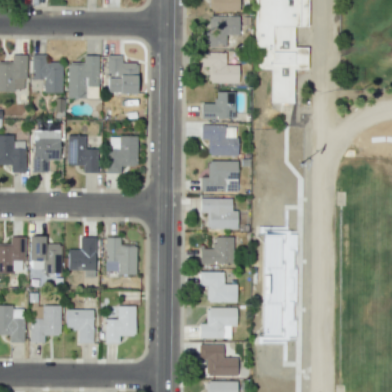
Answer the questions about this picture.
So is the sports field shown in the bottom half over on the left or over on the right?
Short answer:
right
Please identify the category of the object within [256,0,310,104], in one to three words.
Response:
building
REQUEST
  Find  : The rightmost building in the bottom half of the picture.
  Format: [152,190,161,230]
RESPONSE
[257,226,298,344]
